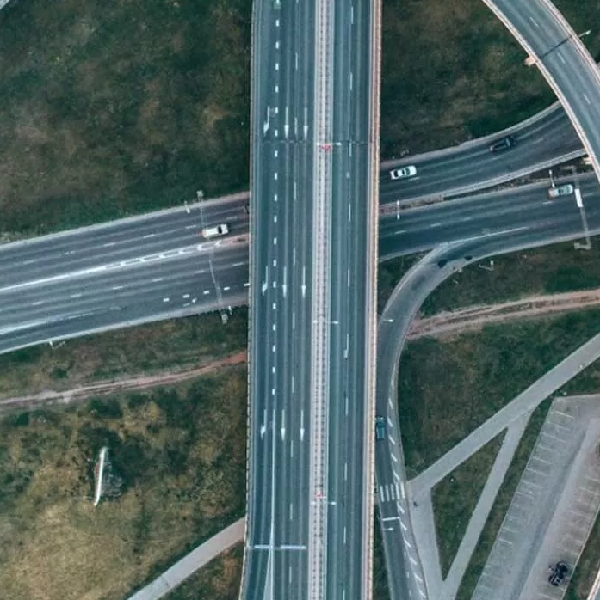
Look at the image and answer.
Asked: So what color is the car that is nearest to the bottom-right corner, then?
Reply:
black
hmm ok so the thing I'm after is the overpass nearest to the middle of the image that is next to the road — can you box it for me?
[238,0,381,600]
